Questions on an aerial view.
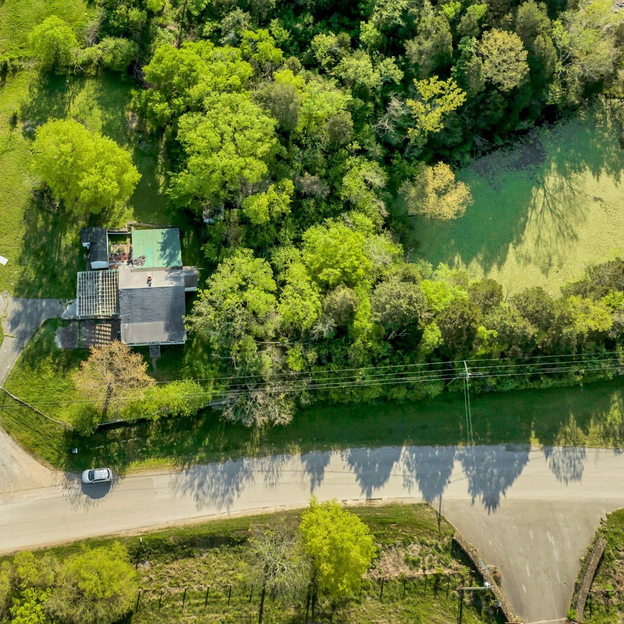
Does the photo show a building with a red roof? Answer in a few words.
No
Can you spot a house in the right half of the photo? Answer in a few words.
No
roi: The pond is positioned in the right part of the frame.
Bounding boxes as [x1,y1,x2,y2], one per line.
[396,99,624,302]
